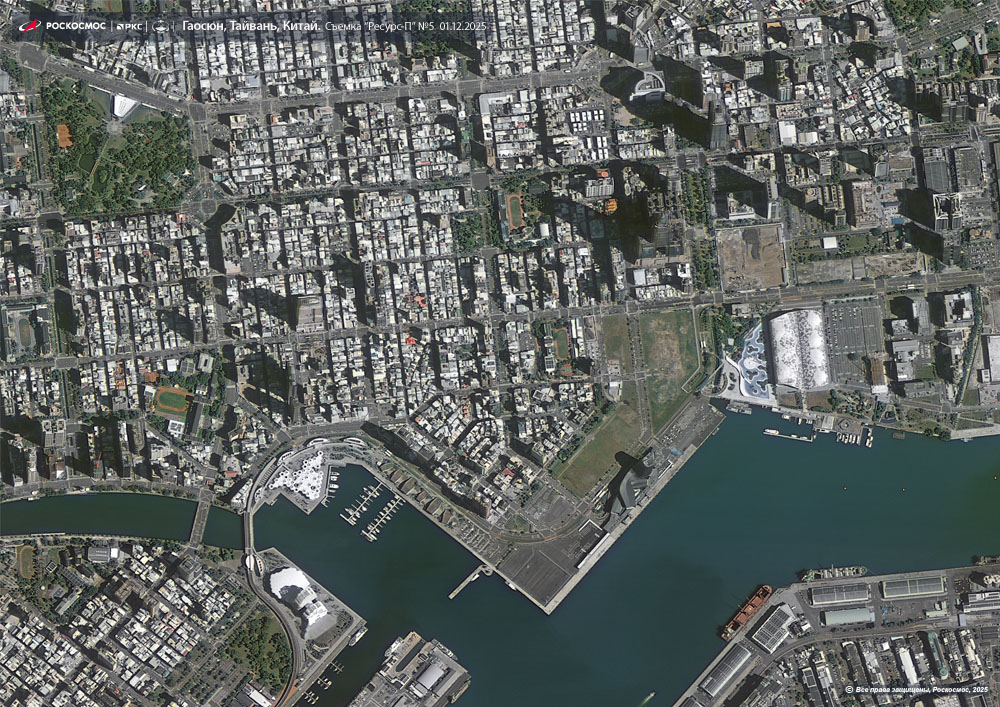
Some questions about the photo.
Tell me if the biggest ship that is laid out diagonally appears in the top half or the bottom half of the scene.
bottom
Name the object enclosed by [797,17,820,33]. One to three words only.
building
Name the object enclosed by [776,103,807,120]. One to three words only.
building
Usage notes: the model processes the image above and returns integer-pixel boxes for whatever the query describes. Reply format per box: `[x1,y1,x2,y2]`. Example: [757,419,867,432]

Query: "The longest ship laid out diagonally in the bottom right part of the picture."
[721,587,771,639]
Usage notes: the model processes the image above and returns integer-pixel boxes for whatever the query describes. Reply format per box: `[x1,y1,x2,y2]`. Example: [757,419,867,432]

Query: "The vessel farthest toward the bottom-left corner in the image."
[351,626,368,645]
